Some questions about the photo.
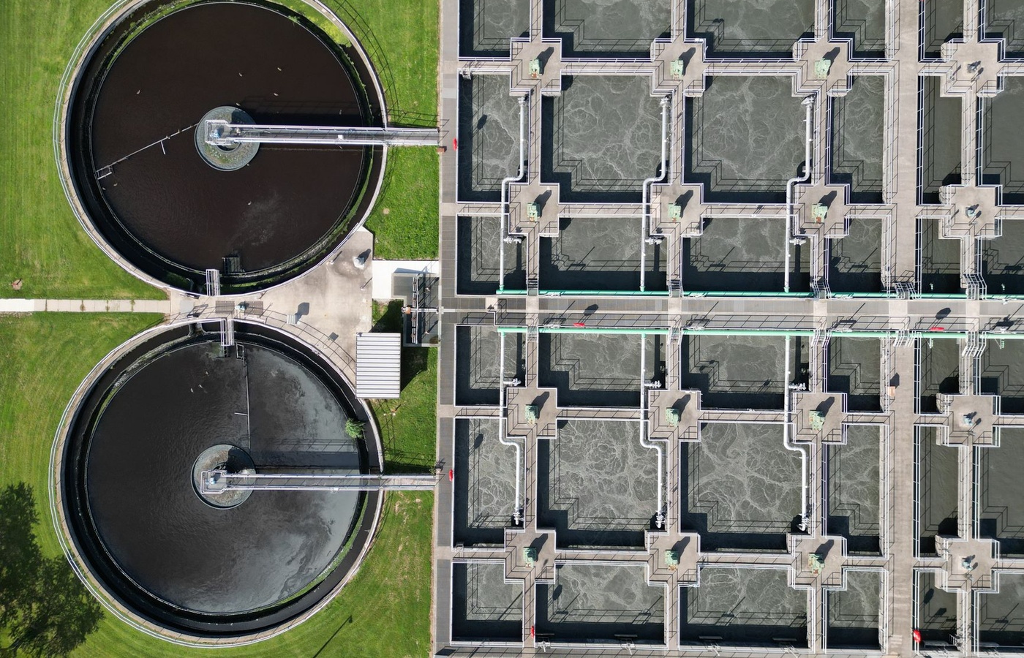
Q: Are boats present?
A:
No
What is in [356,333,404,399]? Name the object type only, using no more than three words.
shed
